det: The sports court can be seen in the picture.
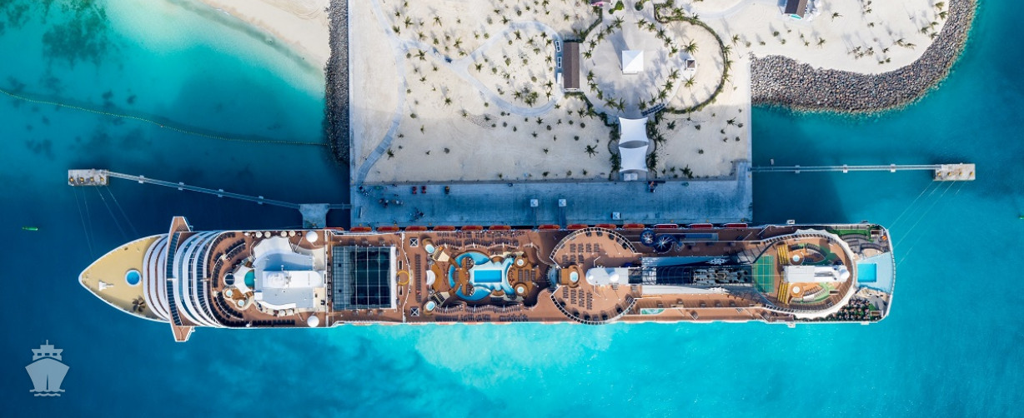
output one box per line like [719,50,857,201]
[752,256,777,294]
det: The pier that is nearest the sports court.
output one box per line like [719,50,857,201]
[351,161,750,226]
